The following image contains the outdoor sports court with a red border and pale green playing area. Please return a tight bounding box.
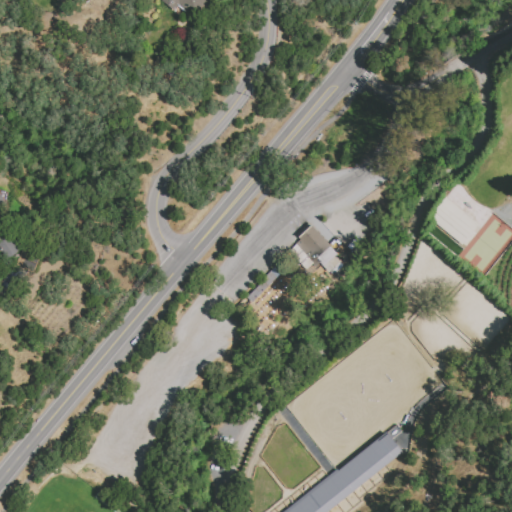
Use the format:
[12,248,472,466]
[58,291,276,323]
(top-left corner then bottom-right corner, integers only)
[460,214,512,274]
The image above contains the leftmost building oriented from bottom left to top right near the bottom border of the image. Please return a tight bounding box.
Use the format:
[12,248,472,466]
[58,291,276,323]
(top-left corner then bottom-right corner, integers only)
[286,426,404,512]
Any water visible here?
No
